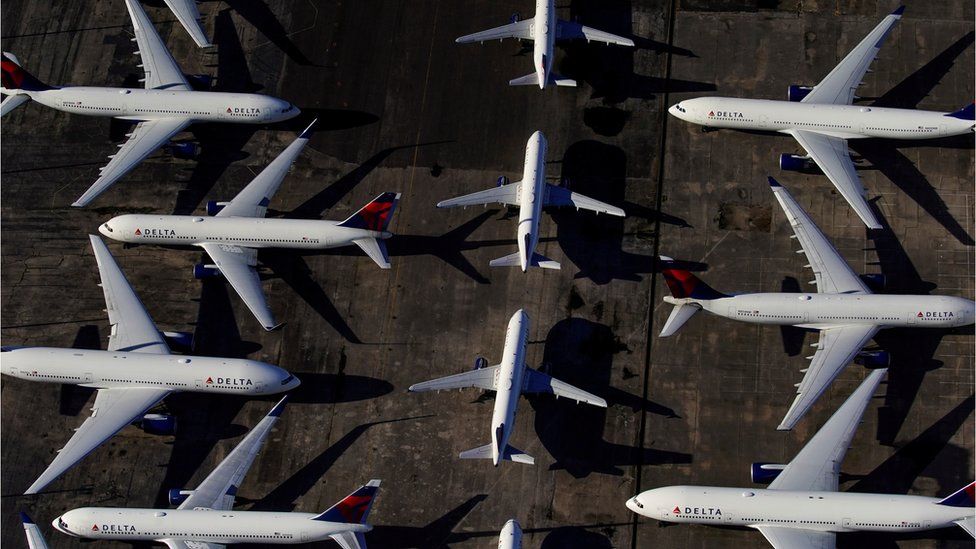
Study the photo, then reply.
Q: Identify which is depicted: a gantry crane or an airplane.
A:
airplane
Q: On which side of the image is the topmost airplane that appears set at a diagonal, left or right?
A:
left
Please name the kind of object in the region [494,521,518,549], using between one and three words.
airplane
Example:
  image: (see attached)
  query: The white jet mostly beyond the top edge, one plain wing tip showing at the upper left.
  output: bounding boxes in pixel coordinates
[165,0,214,51]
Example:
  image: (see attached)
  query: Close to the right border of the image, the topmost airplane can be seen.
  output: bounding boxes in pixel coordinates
[668,7,976,230]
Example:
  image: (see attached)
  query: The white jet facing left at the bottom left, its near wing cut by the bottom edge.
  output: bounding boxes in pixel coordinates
[52,395,381,549]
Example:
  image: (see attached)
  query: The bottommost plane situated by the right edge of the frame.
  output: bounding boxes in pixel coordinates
[627,371,976,549]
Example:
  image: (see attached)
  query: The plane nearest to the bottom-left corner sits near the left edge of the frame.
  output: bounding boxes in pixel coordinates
[22,513,50,549]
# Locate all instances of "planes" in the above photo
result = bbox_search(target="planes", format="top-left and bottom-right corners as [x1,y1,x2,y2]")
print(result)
[22,513,50,549]
[165,0,214,51]
[668,7,976,230]
[660,177,976,429]
[627,371,976,549]
[0,235,301,493]
[98,121,399,326]
[408,312,607,465]
[494,521,518,549]
[52,395,381,549]
[455,0,635,92]
[436,134,625,272]
[0,0,301,206]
